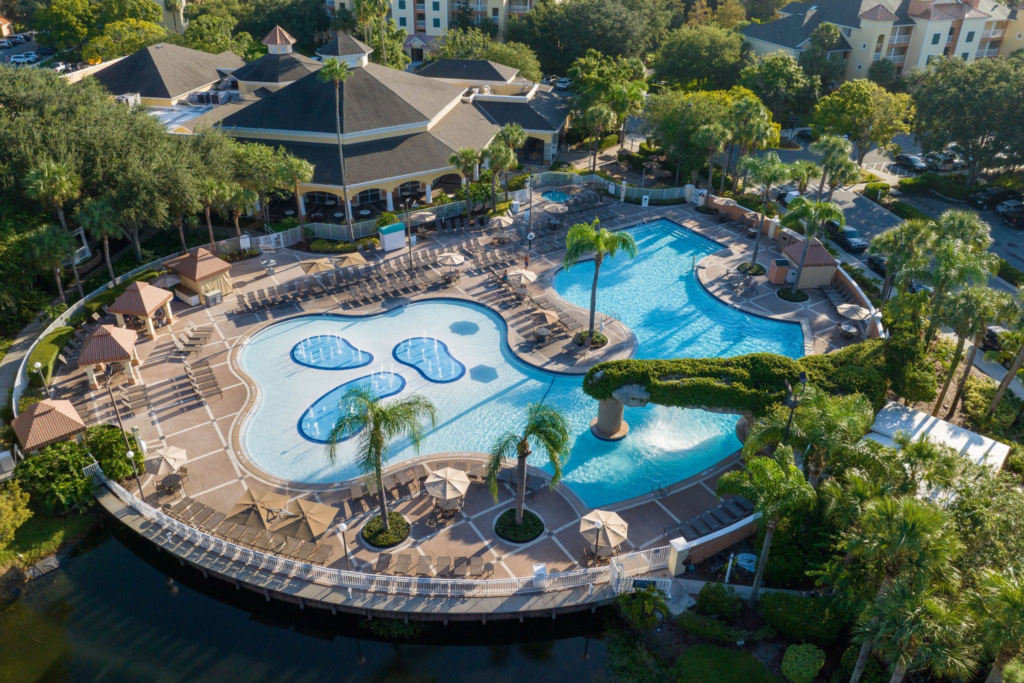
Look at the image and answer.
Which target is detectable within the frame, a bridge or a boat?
bridge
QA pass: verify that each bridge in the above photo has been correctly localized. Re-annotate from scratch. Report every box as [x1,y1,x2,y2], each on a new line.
[577,356,826,454]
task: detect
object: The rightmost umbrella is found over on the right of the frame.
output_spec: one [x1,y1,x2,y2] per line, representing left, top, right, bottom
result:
[837,309,873,329]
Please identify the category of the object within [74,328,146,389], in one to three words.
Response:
gazebo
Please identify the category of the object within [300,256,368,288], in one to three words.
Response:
umbrella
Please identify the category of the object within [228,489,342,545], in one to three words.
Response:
umbrella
